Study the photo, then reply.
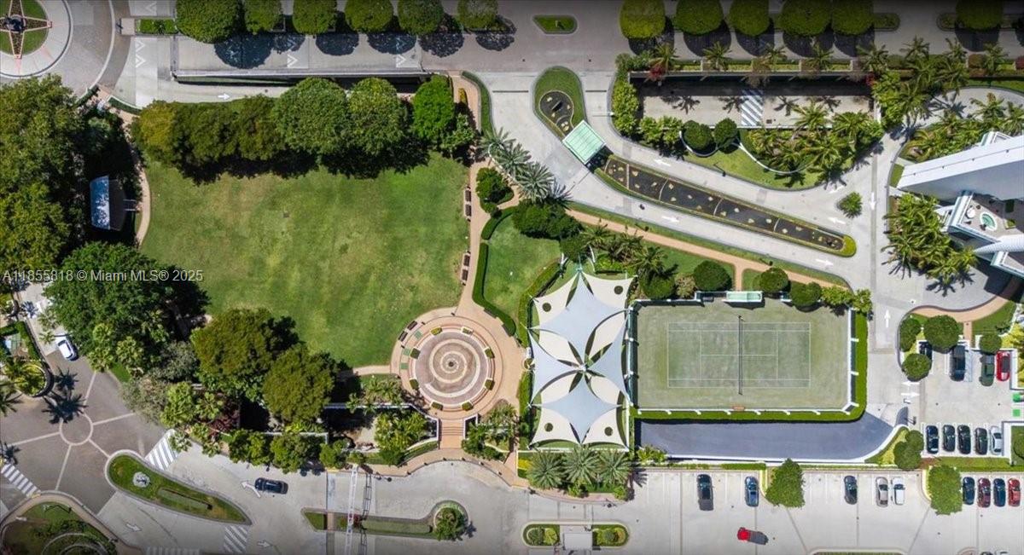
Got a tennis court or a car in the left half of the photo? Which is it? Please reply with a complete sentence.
Visible in the left half of the photo is a car.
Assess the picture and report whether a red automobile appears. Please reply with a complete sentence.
Yes, there's a red automobile here.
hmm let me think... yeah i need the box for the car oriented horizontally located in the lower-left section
[256,478,286,494]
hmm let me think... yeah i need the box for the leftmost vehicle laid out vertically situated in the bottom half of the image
[697,475,712,511]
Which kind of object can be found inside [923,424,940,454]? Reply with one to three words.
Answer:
car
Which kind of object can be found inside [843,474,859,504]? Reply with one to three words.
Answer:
car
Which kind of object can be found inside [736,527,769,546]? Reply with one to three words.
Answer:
vehicle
